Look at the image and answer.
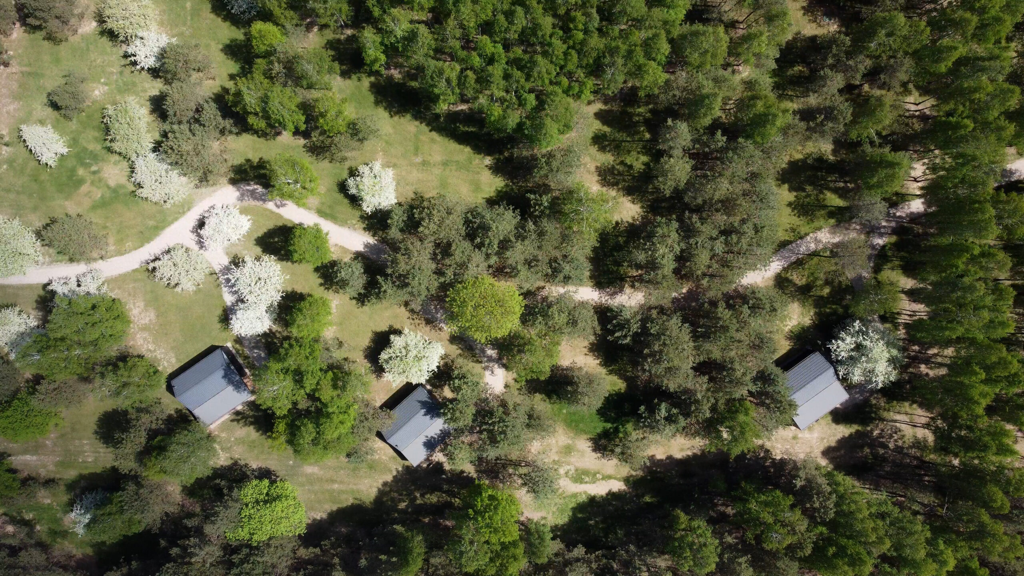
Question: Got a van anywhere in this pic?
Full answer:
No, there's no van here.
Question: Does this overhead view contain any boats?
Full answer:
No, there is no boat in the image.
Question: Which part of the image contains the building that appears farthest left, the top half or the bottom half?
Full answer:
Seen from above, the building that appears farthest left lies in the bottom half of the view.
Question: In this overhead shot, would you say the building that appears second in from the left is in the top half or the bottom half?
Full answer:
It is in the bottom half that the building that appears second in from the left appears.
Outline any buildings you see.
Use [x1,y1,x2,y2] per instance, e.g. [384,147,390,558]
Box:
[778,348,851,432]
[172,346,262,427]
[377,382,458,467]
